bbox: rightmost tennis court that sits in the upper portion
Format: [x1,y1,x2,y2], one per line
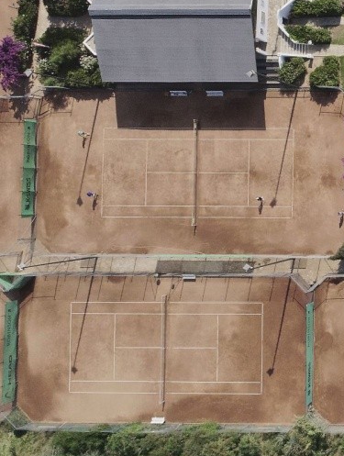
[37,89,344,254]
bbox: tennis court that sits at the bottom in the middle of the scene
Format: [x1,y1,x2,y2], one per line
[18,276,309,424]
